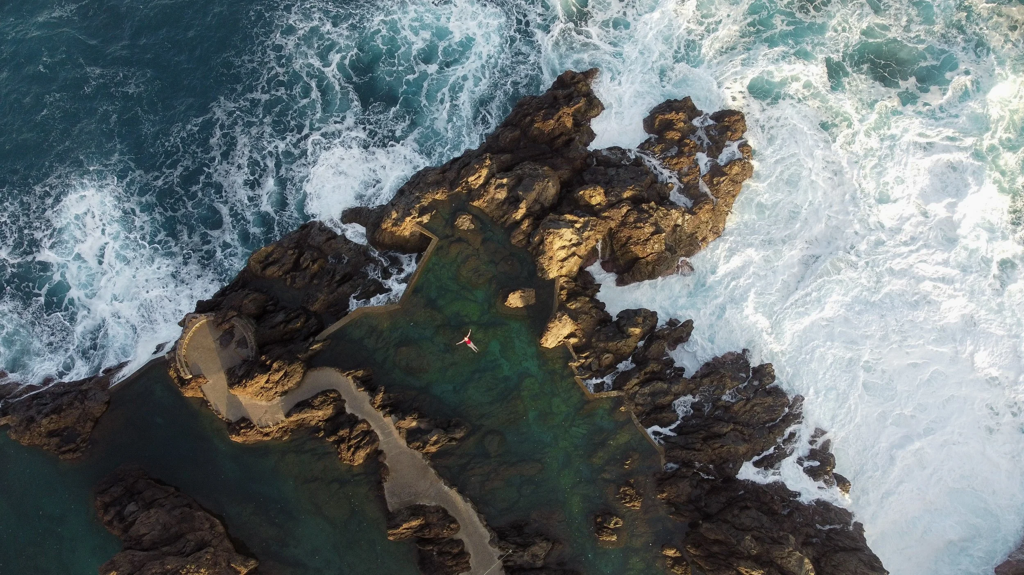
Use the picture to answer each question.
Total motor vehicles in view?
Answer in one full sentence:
The photo contains no motor vehicles.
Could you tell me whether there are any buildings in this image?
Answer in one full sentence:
No, the scene contains no building.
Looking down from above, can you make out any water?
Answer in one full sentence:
Yes, there's water in this view.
